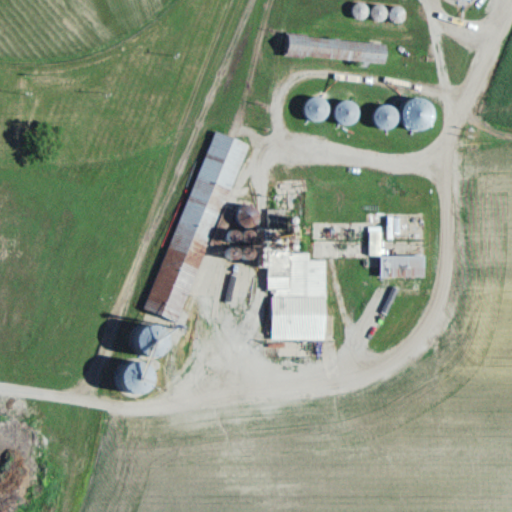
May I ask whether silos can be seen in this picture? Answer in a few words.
Yes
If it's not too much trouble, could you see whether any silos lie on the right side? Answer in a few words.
Yes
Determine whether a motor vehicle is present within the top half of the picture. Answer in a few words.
Yes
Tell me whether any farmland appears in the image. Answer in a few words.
Yes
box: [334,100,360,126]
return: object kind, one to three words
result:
silo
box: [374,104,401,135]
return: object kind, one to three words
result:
silo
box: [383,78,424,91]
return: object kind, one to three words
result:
vehicle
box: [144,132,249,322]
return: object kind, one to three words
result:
shed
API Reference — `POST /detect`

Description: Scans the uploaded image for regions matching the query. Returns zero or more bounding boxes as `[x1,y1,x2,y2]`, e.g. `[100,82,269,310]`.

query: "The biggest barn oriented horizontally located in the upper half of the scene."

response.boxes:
[286,34,386,68]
